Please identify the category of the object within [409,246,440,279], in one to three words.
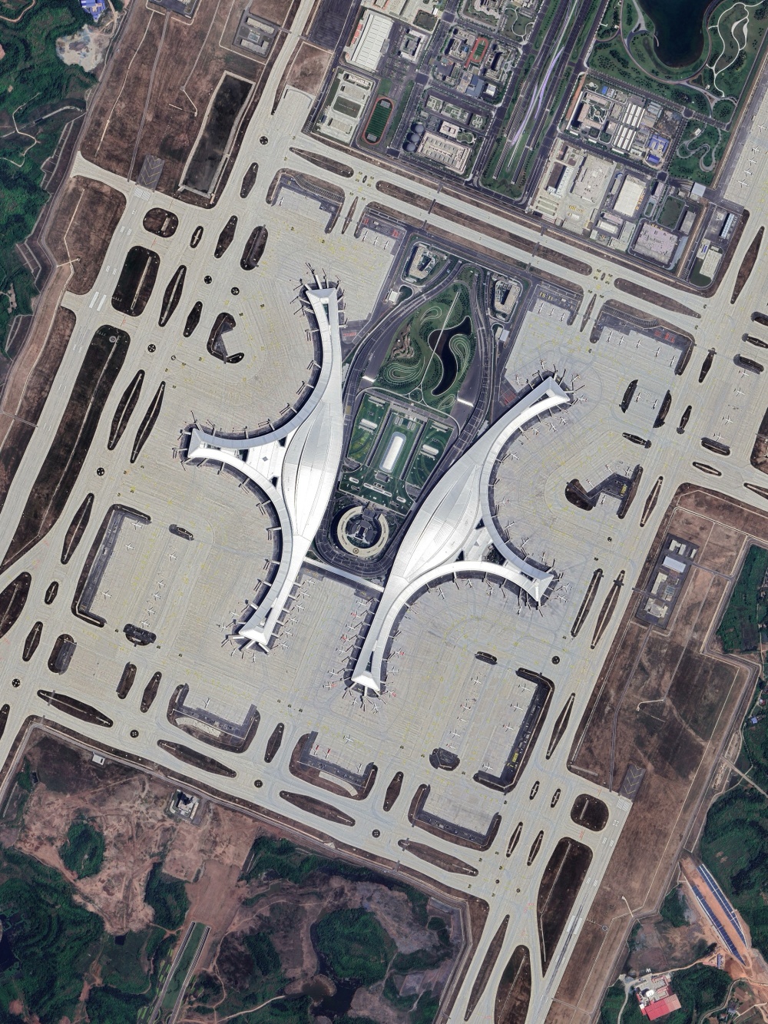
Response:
building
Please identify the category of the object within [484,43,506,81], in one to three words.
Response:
building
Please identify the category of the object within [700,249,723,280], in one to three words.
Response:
hangar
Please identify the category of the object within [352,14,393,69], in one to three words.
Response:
hangar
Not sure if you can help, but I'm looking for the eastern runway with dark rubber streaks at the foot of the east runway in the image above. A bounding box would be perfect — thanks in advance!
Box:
[527,795,631,1024]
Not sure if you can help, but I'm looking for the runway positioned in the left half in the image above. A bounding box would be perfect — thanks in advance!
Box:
[0,184,154,566]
